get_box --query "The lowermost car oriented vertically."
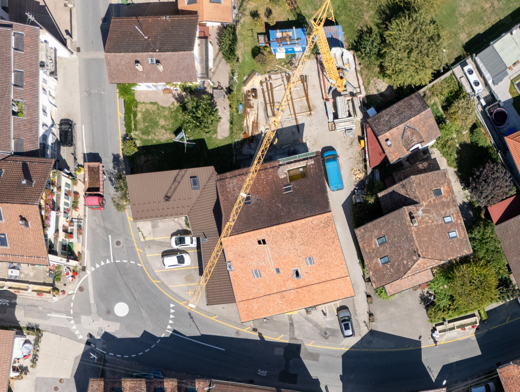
[337,307,356,340]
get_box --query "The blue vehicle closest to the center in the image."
[323,149,344,193]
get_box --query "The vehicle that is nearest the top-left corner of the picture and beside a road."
[57,118,76,149]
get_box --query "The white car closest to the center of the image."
[171,234,198,249]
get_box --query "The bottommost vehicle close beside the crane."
[161,253,193,269]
